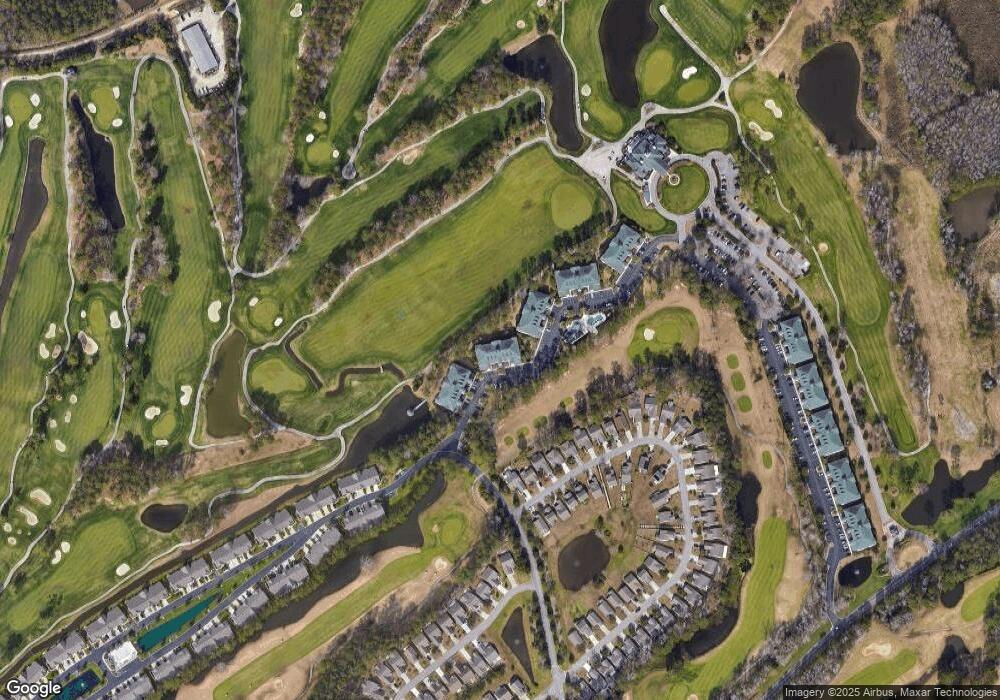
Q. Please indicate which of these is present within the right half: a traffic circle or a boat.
traffic circle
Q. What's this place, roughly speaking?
golf course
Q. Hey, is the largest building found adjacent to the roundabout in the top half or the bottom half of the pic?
top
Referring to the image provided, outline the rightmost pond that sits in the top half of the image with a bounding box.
[949,186,1000,239]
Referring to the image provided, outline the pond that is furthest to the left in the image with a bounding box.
[0,137,48,304]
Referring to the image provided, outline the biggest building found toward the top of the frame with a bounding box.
[620,130,672,185]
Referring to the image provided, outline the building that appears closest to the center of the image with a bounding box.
[476,338,521,370]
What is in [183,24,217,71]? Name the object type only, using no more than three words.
shed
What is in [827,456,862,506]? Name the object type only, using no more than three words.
building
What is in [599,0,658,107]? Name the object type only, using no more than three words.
pond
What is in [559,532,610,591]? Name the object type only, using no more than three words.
pond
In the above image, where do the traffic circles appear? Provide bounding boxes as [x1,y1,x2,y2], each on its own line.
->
[653,155,717,219]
